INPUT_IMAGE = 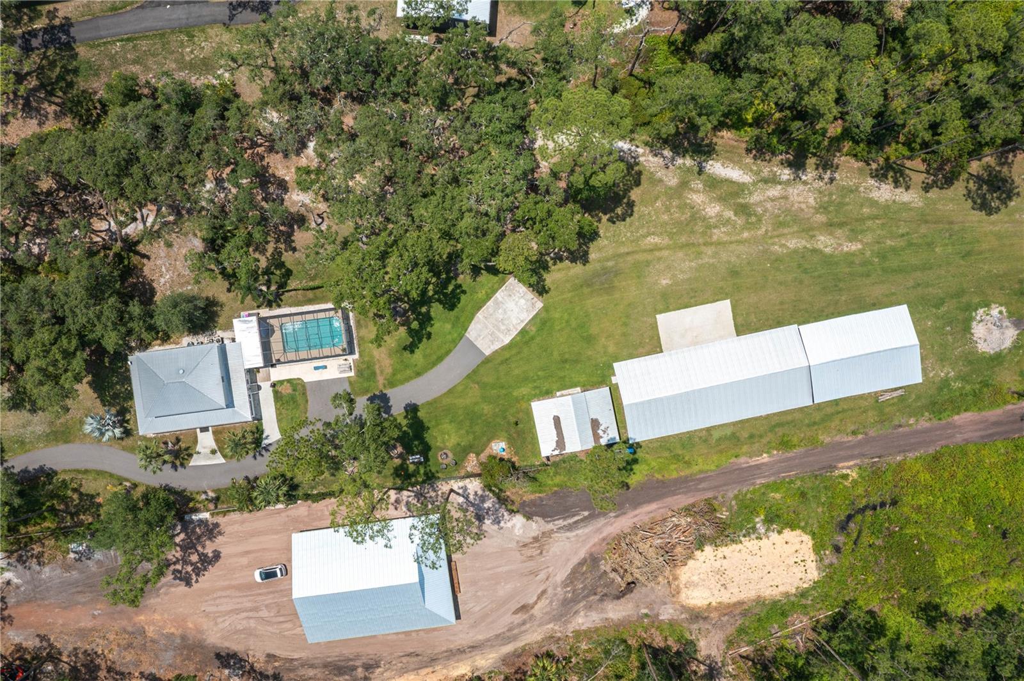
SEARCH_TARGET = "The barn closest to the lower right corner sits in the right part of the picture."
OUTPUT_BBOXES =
[797,304,922,403]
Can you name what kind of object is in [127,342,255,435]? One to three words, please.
house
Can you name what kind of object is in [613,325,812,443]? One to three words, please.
barn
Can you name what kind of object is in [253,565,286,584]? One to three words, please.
car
